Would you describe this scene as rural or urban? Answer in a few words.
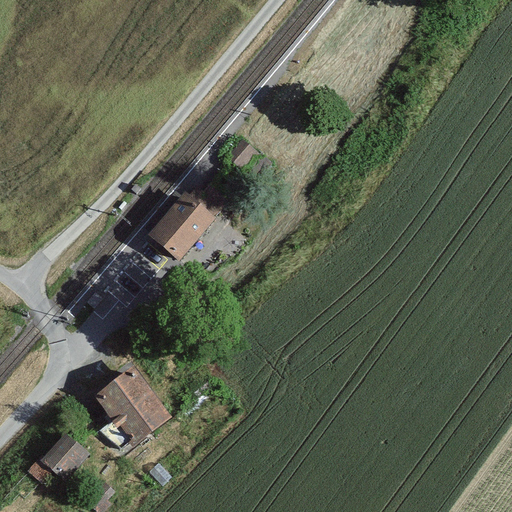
rural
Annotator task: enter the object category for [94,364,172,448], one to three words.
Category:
house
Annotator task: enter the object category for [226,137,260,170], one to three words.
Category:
shed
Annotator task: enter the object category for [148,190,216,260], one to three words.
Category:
house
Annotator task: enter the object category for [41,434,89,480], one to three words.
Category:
barn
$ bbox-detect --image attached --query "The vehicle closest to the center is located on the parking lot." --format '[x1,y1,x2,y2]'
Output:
[143,247,164,265]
